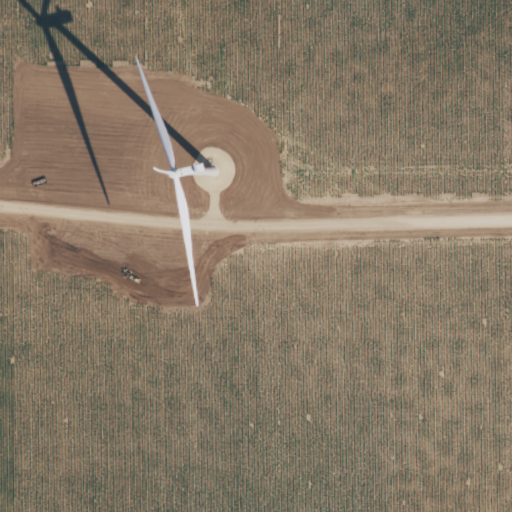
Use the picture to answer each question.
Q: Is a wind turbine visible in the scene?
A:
Yes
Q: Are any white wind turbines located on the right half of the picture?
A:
No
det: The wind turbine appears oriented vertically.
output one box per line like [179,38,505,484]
[134,56,220,305]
